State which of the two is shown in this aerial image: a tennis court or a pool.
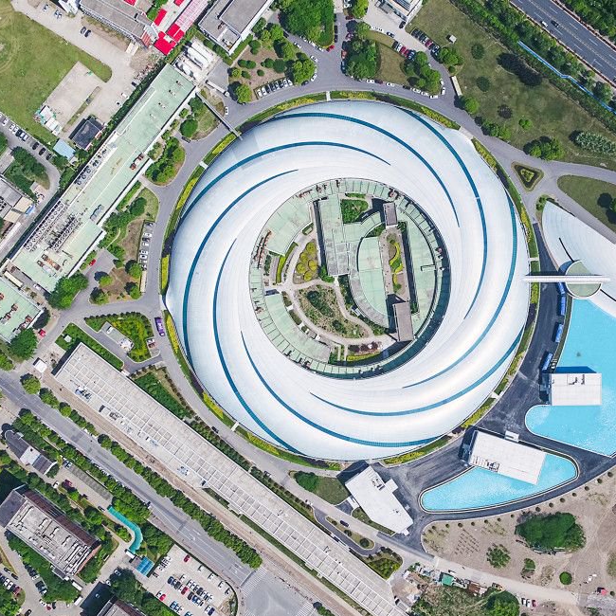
pool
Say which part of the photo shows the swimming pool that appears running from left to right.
bottom right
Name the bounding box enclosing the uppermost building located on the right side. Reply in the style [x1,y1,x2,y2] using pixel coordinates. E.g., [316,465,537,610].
[374,0,424,28]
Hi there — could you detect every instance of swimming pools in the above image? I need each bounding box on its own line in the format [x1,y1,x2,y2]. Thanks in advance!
[418,449,580,514]
[522,296,616,460]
